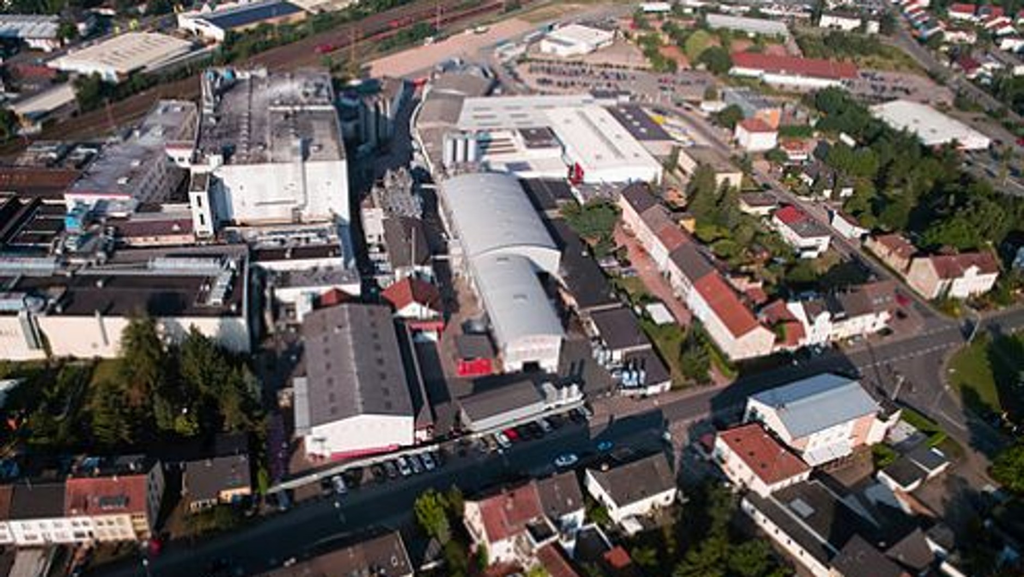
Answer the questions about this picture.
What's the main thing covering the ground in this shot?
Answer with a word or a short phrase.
buildings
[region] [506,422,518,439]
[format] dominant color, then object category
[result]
red vehicle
